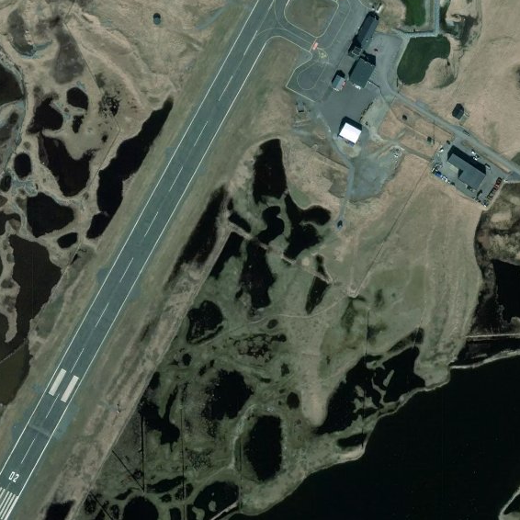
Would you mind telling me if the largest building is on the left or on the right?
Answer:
right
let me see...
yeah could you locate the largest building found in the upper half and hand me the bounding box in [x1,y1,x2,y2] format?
[450,152,489,188]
